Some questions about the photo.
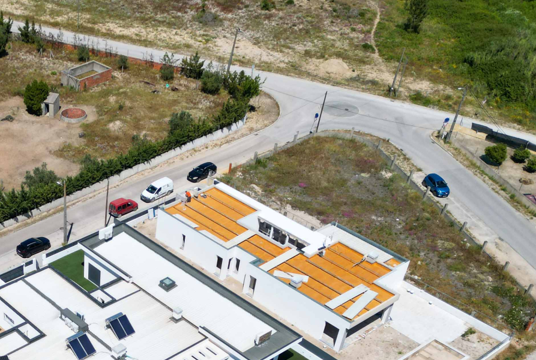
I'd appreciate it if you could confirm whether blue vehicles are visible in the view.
Yes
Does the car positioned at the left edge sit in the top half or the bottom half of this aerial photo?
bottom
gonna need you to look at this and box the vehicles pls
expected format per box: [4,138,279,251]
[108,195,140,219]
[186,161,220,184]
[12,236,53,261]
[421,174,452,199]
[141,174,175,202]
